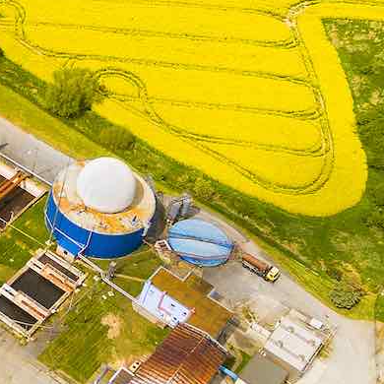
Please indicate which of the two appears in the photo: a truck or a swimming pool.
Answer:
truck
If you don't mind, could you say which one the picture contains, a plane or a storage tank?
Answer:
storage tank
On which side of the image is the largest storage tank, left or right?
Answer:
left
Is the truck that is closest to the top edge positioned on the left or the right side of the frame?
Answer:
right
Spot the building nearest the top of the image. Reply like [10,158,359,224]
[134,267,236,342]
